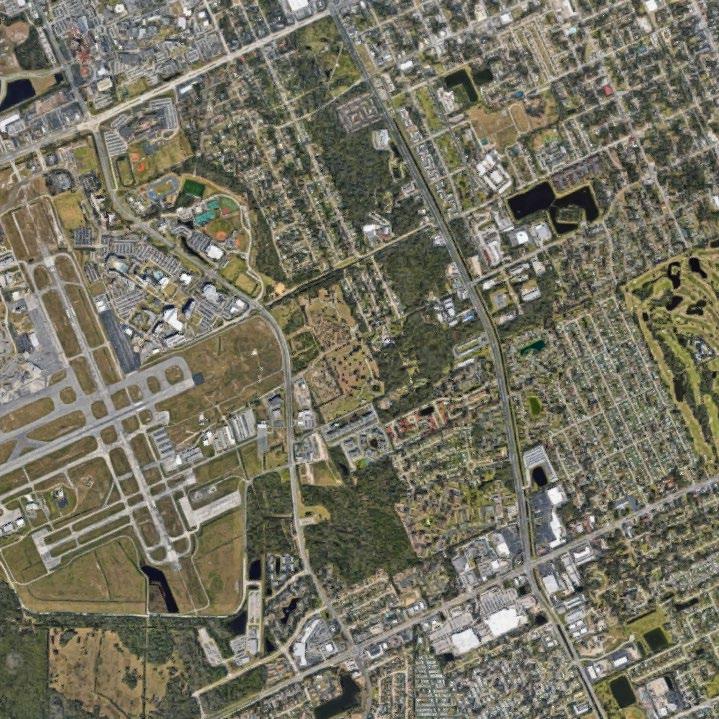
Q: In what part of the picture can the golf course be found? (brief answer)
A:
right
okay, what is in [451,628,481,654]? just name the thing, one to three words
building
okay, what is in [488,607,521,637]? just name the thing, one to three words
building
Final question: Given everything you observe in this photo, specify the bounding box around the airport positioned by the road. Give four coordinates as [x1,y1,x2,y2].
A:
[0,196,286,617]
